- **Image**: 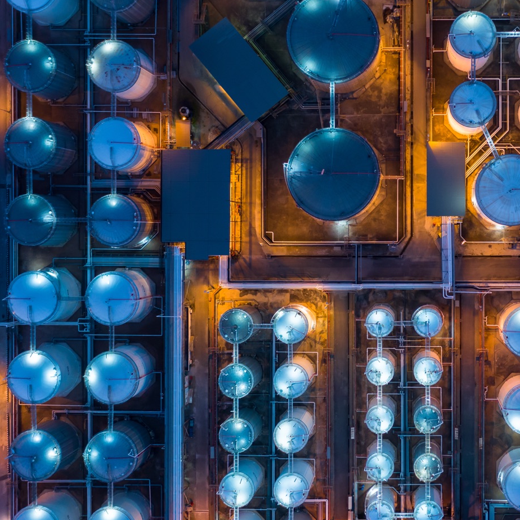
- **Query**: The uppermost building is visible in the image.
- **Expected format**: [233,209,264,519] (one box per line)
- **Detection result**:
[189,18,290,124]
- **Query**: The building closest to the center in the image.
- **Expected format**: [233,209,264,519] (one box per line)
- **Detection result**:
[162,150,234,259]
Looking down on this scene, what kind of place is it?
industrial area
